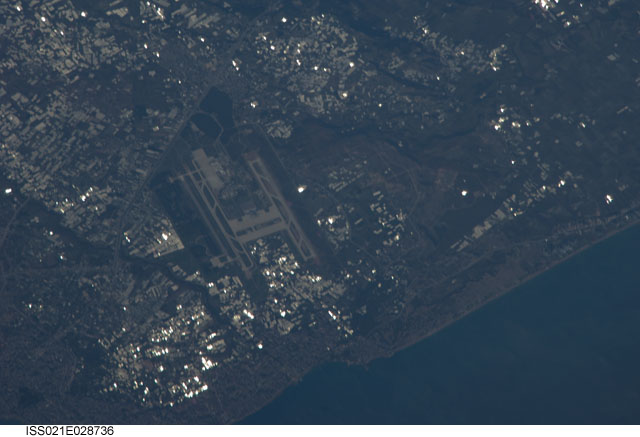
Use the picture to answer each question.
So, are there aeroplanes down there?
No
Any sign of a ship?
No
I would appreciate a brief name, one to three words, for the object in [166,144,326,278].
airport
